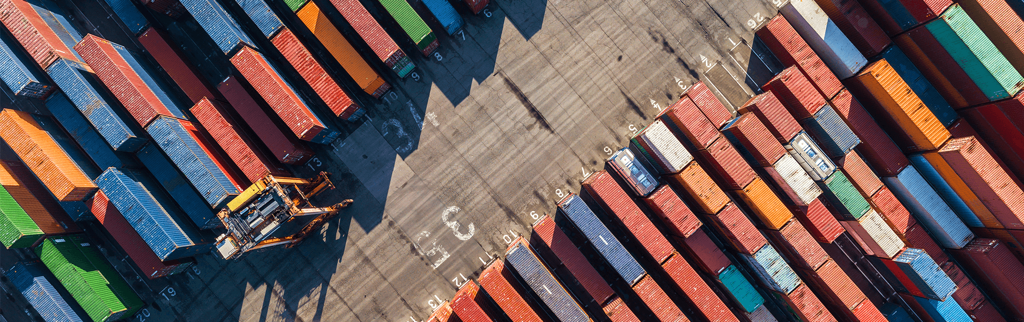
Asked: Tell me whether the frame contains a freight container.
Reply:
Yes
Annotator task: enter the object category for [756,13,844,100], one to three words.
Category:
shipping container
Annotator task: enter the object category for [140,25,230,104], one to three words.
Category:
shipping container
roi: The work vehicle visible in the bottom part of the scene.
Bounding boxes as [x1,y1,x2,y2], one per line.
[213,167,351,259]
